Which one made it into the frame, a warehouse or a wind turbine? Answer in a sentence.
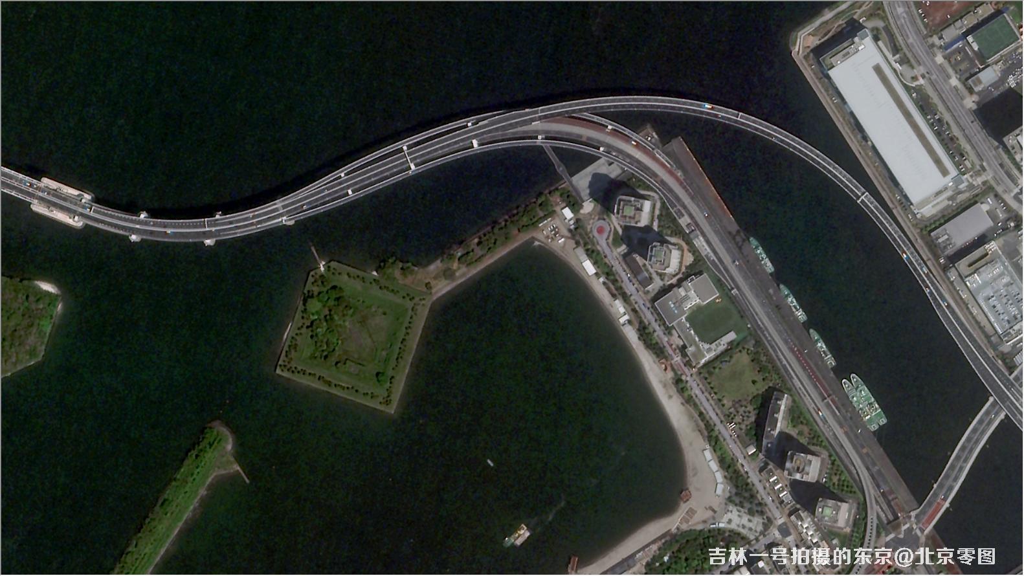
I can see a warehouse in this picture.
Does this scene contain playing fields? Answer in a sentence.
Yes, there's a playing field here.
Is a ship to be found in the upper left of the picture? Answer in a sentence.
No, in the upper left of the picture there is no ship.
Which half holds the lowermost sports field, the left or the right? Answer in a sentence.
It is on the right.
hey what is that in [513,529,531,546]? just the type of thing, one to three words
ship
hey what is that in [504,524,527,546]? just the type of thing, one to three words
ship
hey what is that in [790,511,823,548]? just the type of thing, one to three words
building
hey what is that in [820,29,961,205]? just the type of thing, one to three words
warehouse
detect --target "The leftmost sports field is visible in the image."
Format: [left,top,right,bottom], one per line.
[686,277,752,345]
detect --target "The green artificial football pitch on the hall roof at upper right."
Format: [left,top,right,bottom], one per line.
[973,14,1023,59]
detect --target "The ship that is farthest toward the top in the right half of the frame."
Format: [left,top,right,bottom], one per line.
[749,236,775,273]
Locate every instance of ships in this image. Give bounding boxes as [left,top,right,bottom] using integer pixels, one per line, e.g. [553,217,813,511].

[850,372,886,426]
[504,524,527,546]
[809,328,836,368]
[749,236,775,273]
[842,378,879,433]
[513,529,531,546]
[780,283,807,323]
